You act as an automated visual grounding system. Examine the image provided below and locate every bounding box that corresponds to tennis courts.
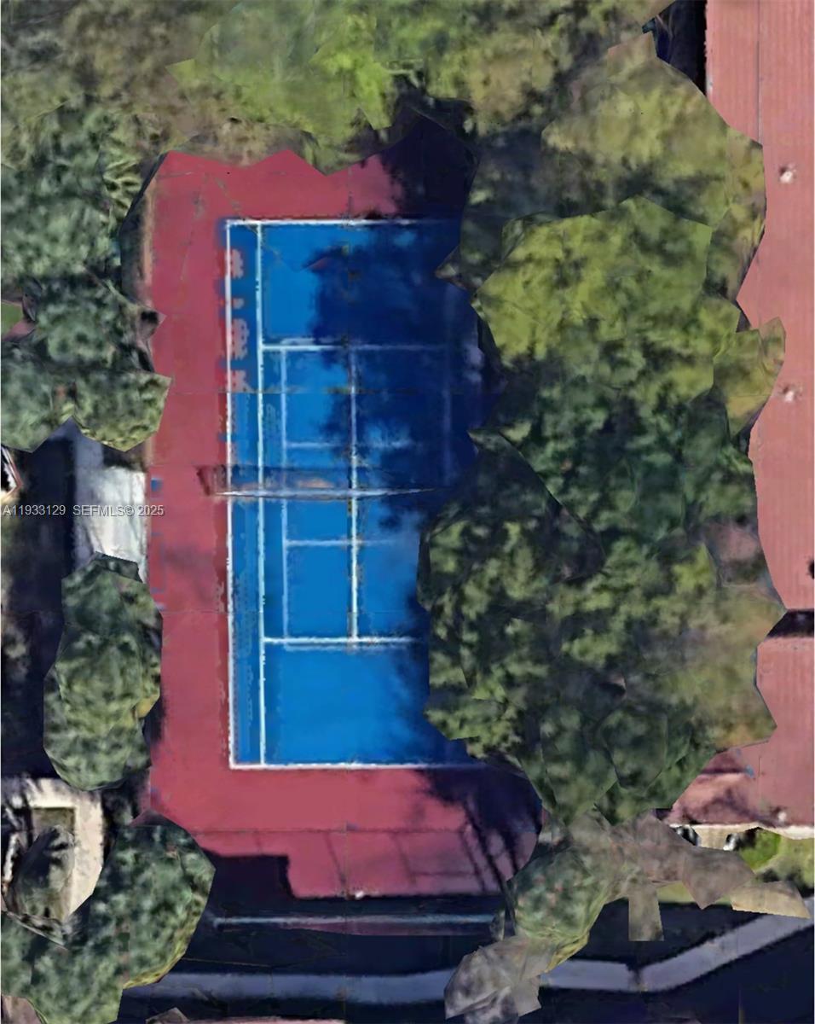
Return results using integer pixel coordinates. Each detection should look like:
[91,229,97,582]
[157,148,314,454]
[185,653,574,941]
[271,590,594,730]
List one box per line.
[149,101,560,937]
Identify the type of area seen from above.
sports ground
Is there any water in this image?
No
